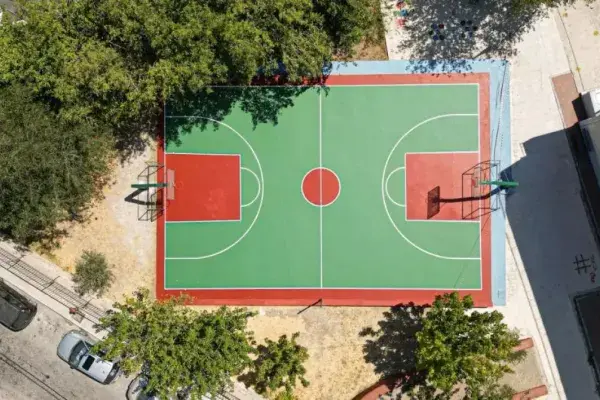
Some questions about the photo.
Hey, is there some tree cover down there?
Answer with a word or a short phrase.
Yes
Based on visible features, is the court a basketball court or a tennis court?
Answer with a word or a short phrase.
basketball court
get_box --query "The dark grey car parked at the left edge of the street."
[0,275,39,328]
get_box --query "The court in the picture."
[156,61,510,307]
